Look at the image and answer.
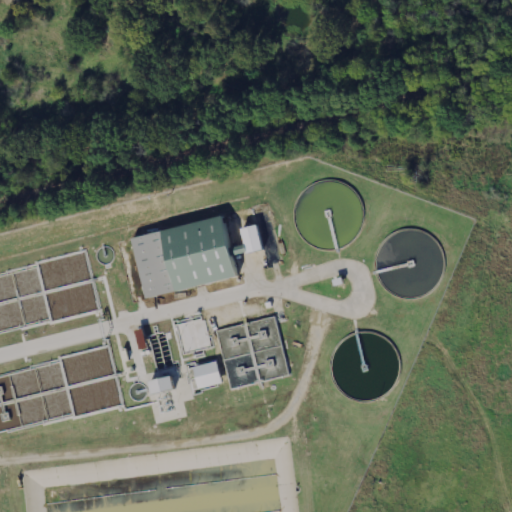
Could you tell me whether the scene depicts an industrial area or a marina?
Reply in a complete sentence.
It's an industrial area.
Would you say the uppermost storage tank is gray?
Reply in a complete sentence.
No, the uppermost storage tank is green.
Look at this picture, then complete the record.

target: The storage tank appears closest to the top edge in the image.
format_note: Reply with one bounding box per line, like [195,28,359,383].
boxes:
[294,180,365,254]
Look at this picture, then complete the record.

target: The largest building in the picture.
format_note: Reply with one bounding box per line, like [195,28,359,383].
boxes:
[129,214,238,299]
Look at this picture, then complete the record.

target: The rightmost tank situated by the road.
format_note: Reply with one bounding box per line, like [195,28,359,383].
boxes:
[374,229,446,298]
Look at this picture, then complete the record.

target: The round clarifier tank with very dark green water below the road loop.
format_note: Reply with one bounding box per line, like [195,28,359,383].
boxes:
[332,330,400,401]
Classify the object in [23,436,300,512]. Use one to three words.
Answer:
pond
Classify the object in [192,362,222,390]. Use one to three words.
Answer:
building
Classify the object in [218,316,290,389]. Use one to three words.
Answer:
storage tank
